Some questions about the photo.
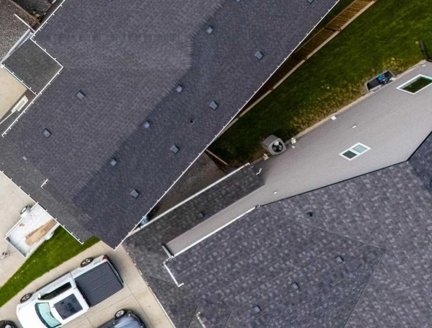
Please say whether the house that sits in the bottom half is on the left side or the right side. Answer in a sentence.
The house that sits in the bottom half sits on the right side.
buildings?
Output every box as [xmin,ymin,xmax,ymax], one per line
[0,0,341,251]
[131,73,432,328]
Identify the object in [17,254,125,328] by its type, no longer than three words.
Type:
truck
